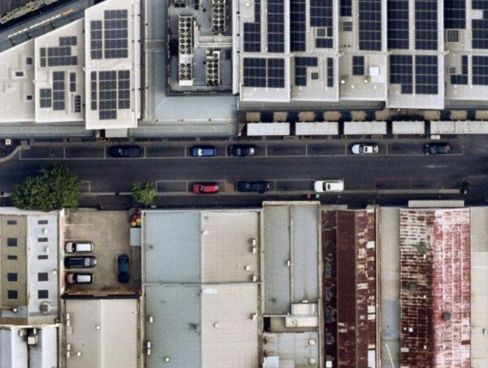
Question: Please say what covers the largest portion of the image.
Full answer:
The bulk of the photo consists of buildings.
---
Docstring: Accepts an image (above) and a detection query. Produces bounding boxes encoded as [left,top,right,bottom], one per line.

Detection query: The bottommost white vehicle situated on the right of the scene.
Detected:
[314,180,344,194]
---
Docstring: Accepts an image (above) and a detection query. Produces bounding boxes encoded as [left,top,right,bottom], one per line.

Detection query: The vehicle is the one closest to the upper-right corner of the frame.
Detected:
[424,143,451,156]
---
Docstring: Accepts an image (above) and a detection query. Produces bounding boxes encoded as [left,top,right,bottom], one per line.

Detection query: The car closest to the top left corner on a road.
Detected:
[111,144,141,159]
